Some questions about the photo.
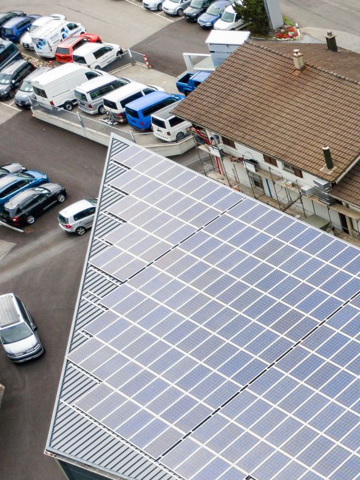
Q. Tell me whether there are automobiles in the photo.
Yes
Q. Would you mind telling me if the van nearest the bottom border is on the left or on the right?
left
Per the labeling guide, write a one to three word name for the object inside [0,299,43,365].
van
